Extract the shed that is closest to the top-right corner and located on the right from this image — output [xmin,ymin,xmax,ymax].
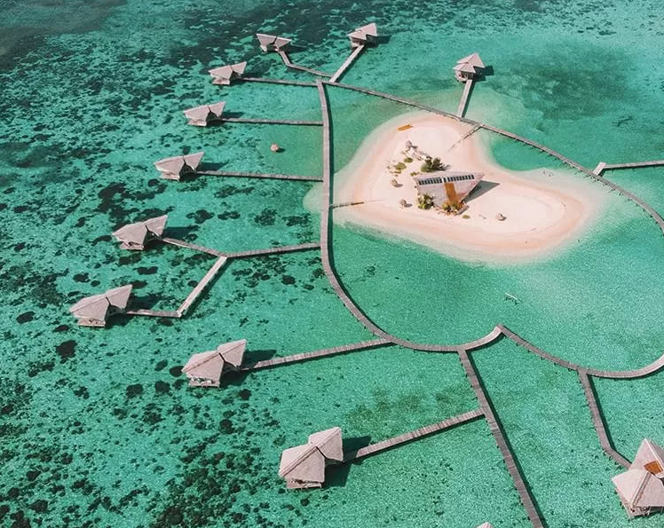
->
[455,53,484,86]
